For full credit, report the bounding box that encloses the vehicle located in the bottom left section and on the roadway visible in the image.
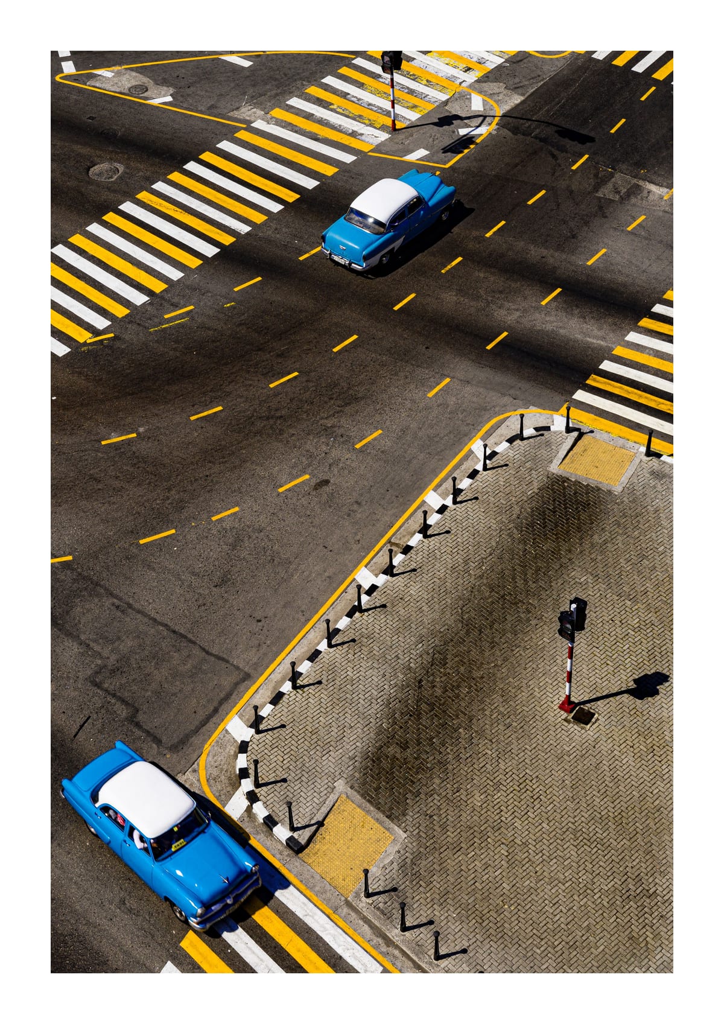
[55,742,267,932]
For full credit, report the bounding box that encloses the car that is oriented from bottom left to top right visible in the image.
[317,171,464,273]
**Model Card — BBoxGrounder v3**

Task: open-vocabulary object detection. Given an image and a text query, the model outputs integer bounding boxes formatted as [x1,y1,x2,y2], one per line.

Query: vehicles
[317,171,464,273]
[55,742,267,932]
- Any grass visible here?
No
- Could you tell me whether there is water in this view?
No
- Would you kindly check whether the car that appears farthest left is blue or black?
blue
